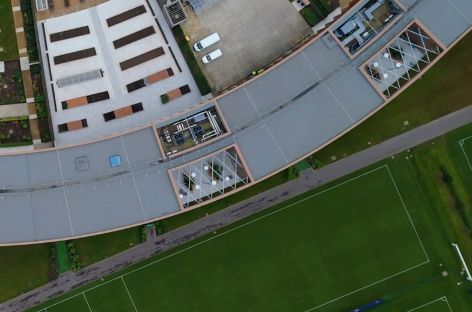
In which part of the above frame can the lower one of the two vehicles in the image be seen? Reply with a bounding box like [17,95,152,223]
[202,48,224,64]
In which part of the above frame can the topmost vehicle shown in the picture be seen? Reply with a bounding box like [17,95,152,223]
[195,33,222,52]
